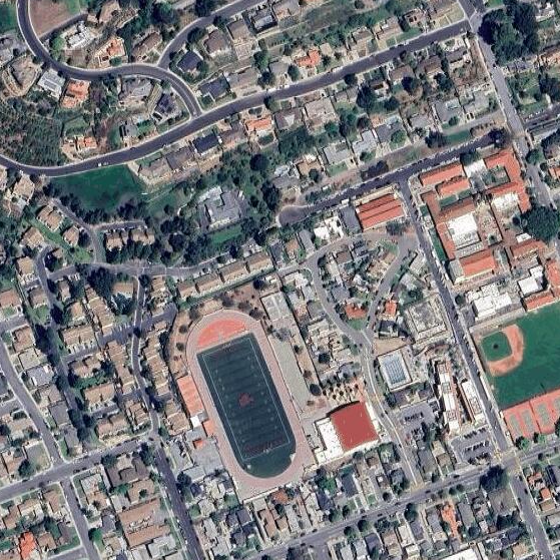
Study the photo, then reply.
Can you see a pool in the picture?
Yes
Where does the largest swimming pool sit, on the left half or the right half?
right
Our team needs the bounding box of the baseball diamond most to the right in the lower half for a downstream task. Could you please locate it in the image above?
[472,301,560,409]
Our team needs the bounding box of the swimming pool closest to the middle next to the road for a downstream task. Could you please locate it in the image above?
[379,350,411,388]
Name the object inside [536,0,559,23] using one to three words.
house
